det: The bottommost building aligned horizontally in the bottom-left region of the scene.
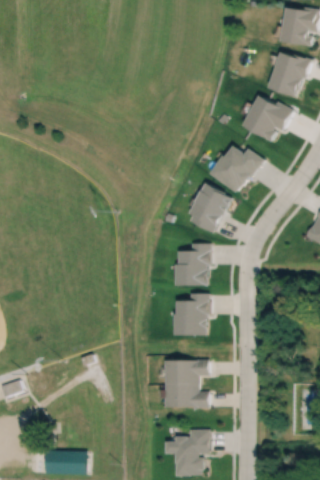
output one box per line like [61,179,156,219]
[43,449,94,474]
